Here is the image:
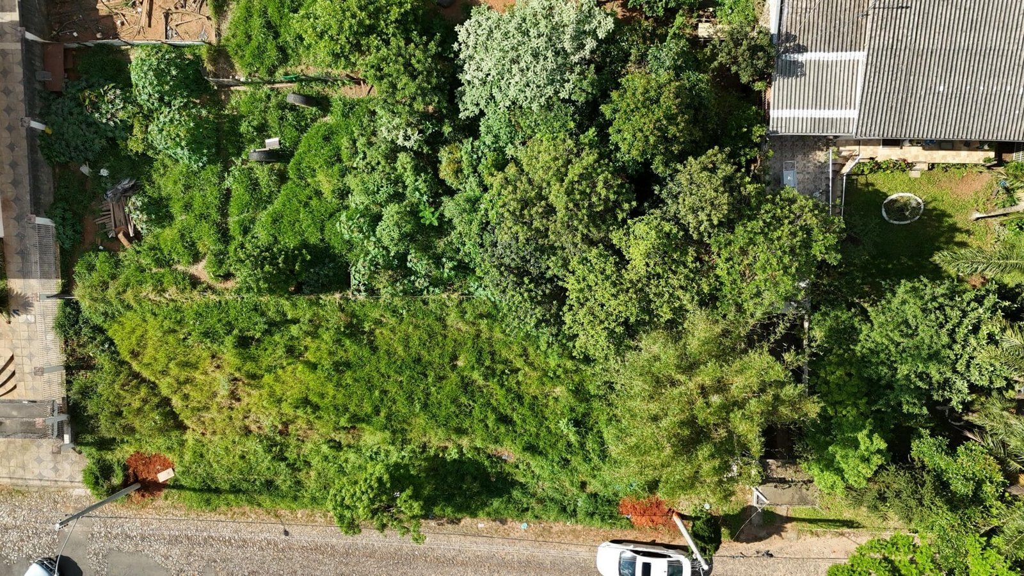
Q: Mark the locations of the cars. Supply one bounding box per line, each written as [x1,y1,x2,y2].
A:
[595,543,695,576]
[14,557,61,576]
